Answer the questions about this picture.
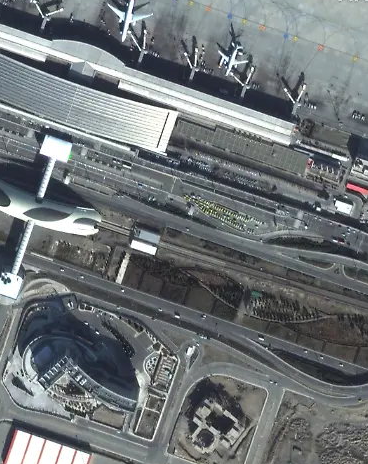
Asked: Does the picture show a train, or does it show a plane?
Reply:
plane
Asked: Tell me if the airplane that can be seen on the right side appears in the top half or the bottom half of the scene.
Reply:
top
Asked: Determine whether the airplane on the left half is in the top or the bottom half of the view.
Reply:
top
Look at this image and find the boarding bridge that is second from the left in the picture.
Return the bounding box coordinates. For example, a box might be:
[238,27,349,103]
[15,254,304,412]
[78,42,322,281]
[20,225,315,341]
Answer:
[127,28,148,61]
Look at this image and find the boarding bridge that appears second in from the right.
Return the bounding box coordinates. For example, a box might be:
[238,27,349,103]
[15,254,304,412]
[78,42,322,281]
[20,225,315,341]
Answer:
[229,64,254,97]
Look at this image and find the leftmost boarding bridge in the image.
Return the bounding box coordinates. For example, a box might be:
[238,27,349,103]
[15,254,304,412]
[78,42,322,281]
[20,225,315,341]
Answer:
[33,0,65,30]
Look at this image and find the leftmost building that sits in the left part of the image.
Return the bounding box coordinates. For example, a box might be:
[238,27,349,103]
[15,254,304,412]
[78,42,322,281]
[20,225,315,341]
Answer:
[0,265,24,300]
